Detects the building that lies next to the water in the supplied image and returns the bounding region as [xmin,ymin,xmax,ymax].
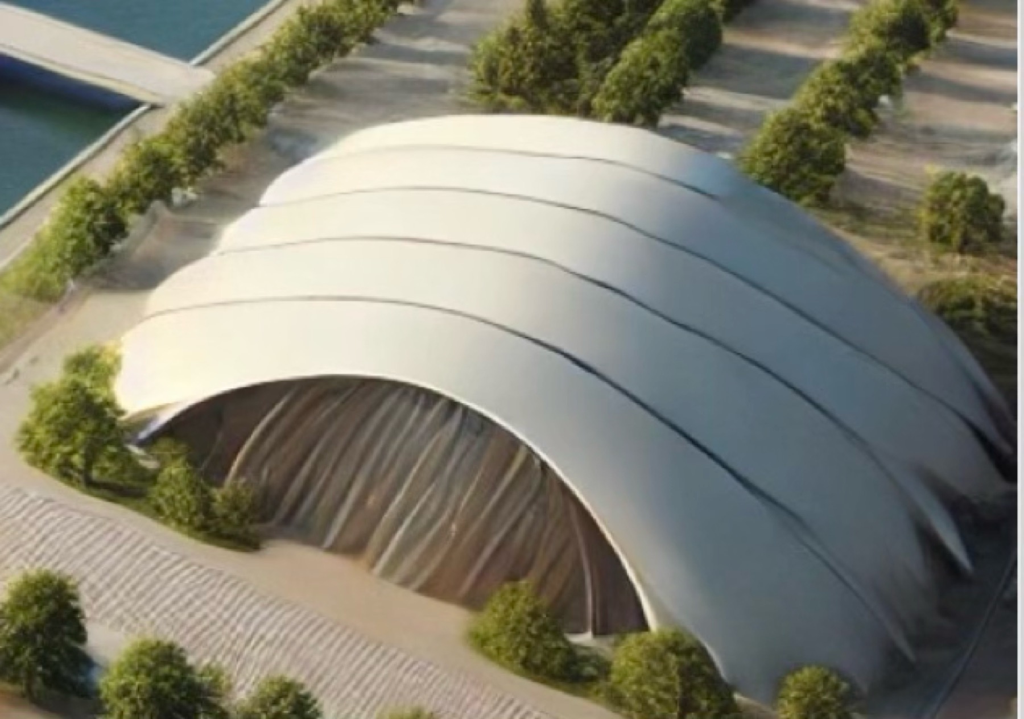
[112,114,1009,678]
